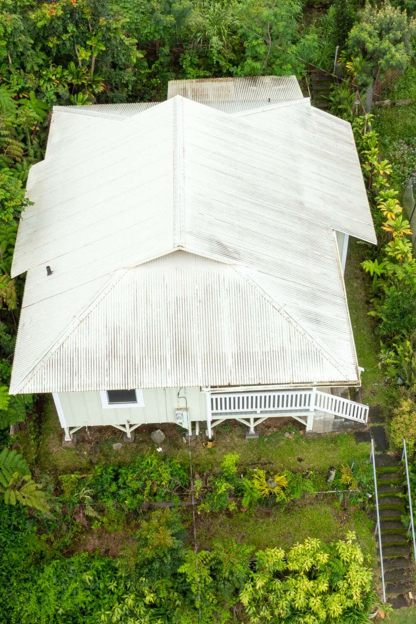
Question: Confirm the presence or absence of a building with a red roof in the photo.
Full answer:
No, no building with a red roof is visible in the view.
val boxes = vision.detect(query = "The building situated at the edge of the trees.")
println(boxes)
[7,76,376,445]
